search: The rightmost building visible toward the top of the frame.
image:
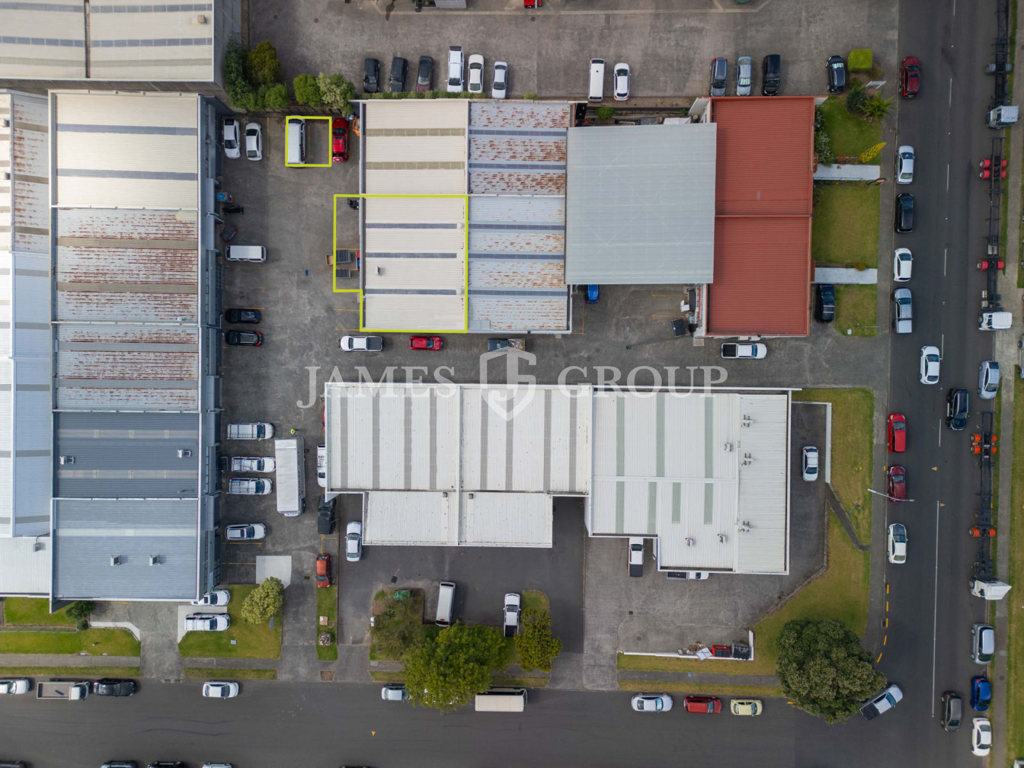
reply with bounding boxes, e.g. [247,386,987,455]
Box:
[687,95,828,341]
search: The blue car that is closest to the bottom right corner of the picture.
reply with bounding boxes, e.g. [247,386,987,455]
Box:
[969,674,992,710]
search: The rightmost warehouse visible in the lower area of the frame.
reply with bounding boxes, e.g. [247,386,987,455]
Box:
[583,385,802,575]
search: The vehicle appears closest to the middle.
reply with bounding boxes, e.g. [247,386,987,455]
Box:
[487,338,525,354]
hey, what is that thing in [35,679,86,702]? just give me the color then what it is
gray truck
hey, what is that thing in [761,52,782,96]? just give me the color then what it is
black vehicle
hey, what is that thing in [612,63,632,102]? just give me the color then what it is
white car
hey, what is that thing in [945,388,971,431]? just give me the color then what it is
black car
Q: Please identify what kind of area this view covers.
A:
industrial area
